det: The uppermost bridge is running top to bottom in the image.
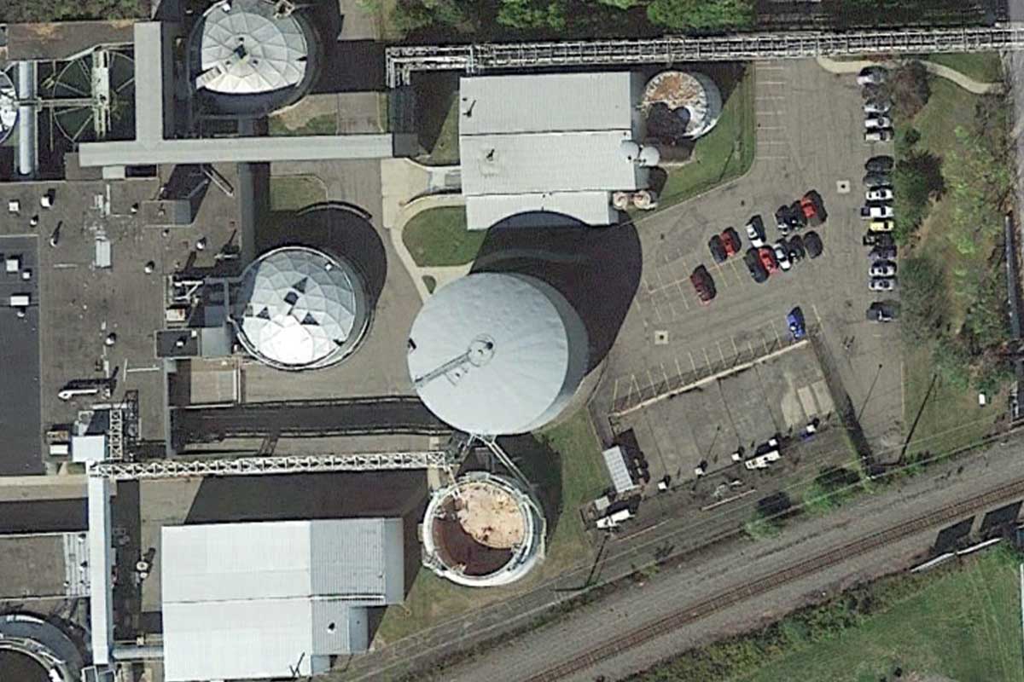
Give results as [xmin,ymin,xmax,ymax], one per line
[93,49,108,138]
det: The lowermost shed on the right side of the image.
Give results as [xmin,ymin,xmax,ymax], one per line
[603,446,639,495]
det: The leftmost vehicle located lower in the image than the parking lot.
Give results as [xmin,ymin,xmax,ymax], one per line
[594,510,630,529]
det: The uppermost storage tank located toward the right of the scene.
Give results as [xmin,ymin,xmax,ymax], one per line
[636,71,720,138]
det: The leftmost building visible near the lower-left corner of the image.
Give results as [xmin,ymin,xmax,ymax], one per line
[0,534,72,598]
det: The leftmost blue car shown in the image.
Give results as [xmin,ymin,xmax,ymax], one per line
[786,309,803,337]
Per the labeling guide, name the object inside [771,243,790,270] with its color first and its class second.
white car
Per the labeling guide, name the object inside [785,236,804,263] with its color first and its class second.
black car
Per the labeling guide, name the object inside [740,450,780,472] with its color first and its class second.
white truck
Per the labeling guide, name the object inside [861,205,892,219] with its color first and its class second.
white vehicle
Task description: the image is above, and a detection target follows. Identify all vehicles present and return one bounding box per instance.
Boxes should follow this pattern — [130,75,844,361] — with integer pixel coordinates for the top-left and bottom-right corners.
[745,218,763,245]
[861,205,892,219]
[868,248,895,260]
[865,157,893,170]
[864,173,891,186]
[864,116,891,128]
[801,231,821,258]
[786,309,803,337]
[771,243,790,270]
[870,220,893,233]
[863,233,895,247]
[861,129,893,142]
[594,510,630,529]
[858,69,886,83]
[868,277,895,290]
[740,450,780,472]
[744,252,764,280]
[785,236,804,263]
[773,209,791,236]
[784,204,803,232]
[715,228,738,260]
[866,189,892,201]
[691,272,711,299]
[869,304,896,317]
[863,101,890,113]
[868,263,895,275]
[707,235,726,263]
[758,246,776,273]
